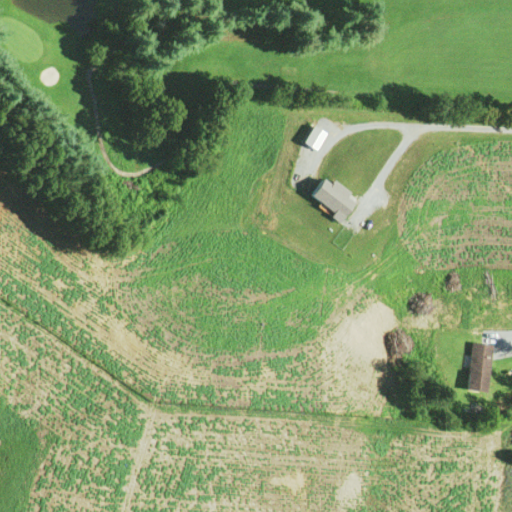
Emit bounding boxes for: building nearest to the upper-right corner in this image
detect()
[305,125,329,150]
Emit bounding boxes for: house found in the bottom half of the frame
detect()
[460,343,494,394]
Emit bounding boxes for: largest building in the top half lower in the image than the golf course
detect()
[312,179,358,228]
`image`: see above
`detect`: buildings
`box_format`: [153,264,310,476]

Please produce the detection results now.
[305,125,329,150]
[312,179,358,228]
[460,343,494,394]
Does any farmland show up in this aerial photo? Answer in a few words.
Yes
